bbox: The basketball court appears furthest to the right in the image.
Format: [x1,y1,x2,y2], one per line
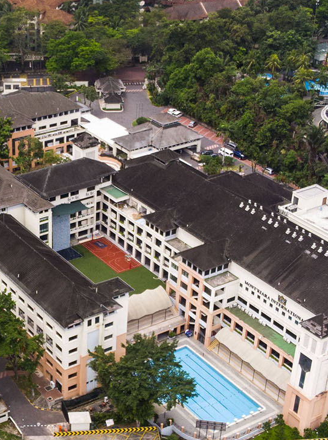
[81,237,141,273]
